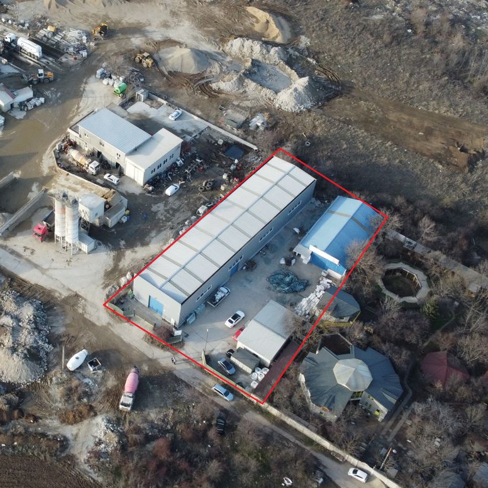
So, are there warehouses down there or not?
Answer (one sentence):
Yes, a warehouse can be made out from above.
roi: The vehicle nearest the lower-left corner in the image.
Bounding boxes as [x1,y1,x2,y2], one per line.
[118,365,140,411]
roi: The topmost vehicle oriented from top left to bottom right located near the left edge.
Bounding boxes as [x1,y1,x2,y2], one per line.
[7,31,41,59]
